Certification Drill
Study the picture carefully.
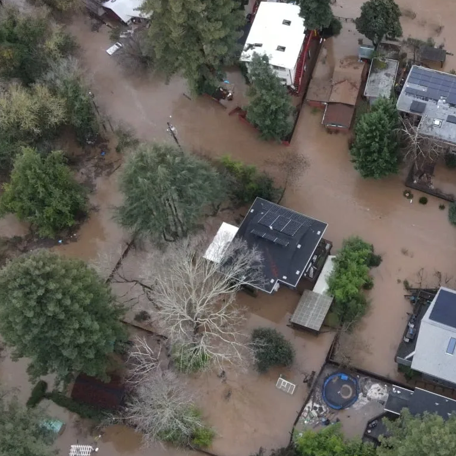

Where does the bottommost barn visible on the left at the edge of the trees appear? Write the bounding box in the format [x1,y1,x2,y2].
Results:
[70,372,129,415]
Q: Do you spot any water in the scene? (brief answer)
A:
Yes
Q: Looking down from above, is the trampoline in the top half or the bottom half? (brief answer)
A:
bottom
